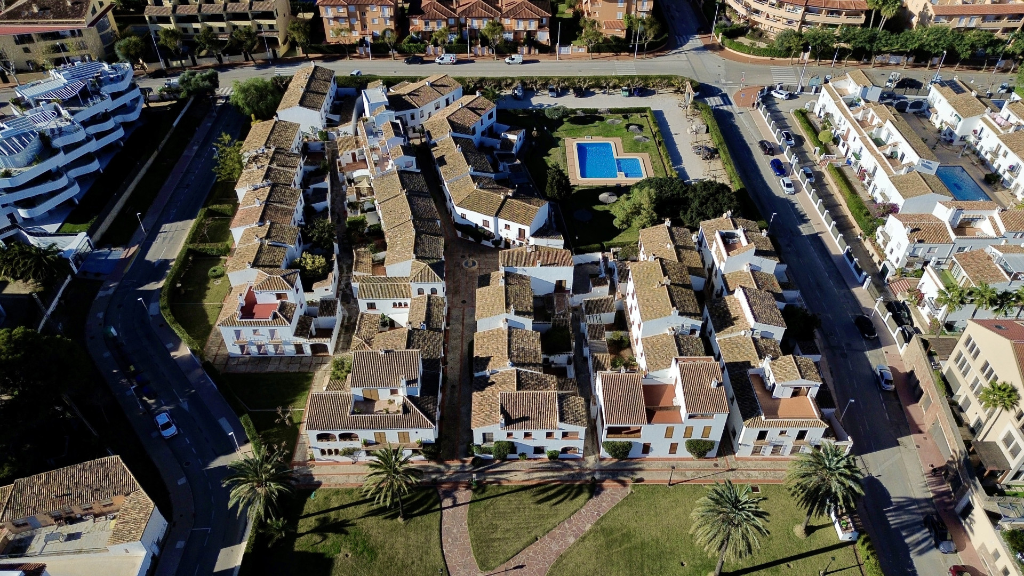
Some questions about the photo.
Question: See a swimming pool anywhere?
Yes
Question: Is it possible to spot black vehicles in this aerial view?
Yes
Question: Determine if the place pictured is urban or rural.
urban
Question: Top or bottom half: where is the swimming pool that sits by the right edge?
top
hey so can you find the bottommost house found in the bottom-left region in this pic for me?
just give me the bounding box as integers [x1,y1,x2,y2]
[0,454,174,576]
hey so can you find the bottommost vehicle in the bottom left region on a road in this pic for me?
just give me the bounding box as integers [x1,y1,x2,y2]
[149,406,178,437]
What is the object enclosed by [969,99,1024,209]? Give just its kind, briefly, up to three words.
house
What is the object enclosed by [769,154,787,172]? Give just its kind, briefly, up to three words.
car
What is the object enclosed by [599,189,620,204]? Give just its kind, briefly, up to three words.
umbrella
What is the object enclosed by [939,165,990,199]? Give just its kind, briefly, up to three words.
swimming pool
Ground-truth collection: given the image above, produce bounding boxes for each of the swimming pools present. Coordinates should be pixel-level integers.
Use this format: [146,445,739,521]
[939,165,990,199]
[576,140,643,179]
